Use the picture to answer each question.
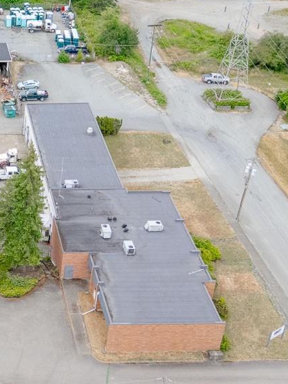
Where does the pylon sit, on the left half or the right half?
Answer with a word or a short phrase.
right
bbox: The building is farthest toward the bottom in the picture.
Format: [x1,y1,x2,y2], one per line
[29,103,227,353]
